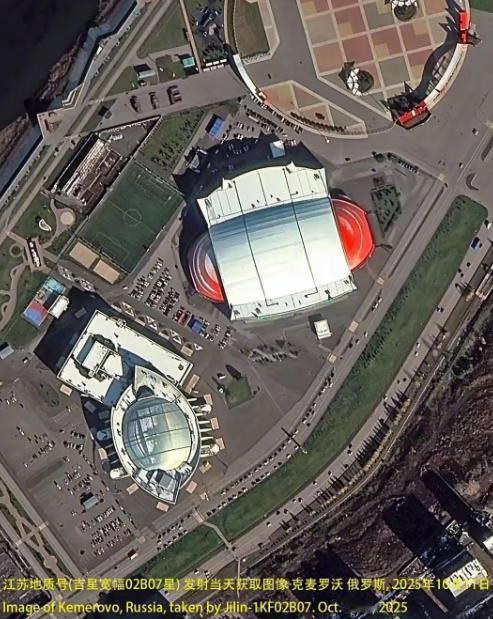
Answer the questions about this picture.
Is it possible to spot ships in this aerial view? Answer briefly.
No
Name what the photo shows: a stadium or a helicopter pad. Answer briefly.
stadium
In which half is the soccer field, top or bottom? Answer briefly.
top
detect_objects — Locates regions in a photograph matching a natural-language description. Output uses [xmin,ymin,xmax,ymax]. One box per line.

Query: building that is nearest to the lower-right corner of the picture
[446,560,486,598]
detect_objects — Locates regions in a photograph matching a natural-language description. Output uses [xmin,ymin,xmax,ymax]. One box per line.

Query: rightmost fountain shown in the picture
[393,0,416,22]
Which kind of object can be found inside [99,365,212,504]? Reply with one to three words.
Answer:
building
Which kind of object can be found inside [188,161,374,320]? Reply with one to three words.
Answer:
stadium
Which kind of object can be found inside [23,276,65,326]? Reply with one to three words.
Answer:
sports court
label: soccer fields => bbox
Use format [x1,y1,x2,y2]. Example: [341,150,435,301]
[79,159,185,274]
